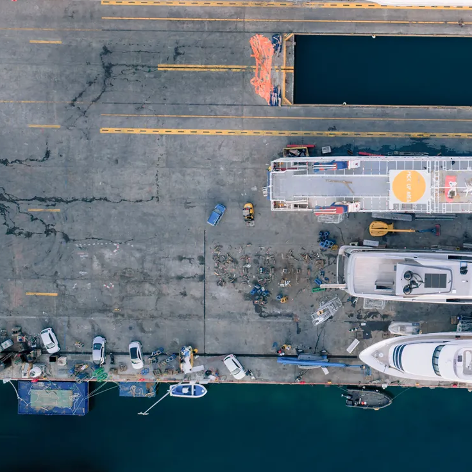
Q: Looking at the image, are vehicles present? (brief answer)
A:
Yes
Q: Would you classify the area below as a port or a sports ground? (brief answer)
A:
port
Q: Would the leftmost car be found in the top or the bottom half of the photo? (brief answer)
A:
bottom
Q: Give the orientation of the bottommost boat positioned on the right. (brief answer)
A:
from side to side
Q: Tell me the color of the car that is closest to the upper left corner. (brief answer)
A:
blue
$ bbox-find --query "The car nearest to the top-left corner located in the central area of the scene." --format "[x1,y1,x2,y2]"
[203,204,225,228]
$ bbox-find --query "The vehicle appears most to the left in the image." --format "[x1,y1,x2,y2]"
[37,328,60,356]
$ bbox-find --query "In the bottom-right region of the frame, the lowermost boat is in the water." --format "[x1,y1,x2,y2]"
[341,388,392,411]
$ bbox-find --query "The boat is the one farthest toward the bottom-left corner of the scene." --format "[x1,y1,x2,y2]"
[171,383,208,398]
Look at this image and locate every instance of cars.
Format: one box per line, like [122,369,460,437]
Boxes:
[125,342,143,371]
[203,204,225,228]
[221,356,243,382]
[89,337,106,366]
[37,328,60,356]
